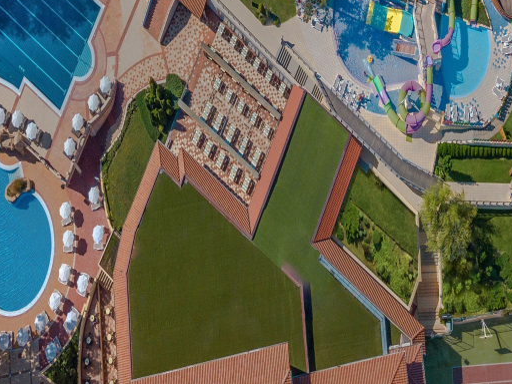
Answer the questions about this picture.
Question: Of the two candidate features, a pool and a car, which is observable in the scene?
pool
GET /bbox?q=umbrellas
[65,312,79,328]
[0,107,10,125]
[51,293,64,310]
[60,266,71,282]
[78,275,91,291]
[100,77,113,95]
[72,114,86,132]
[0,331,14,349]
[18,327,32,344]
[13,110,27,128]
[46,340,61,357]
[90,188,103,204]
[27,123,41,140]
[94,225,106,241]
[35,314,50,330]
[65,139,78,155]
[62,202,73,218]
[64,231,75,247]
